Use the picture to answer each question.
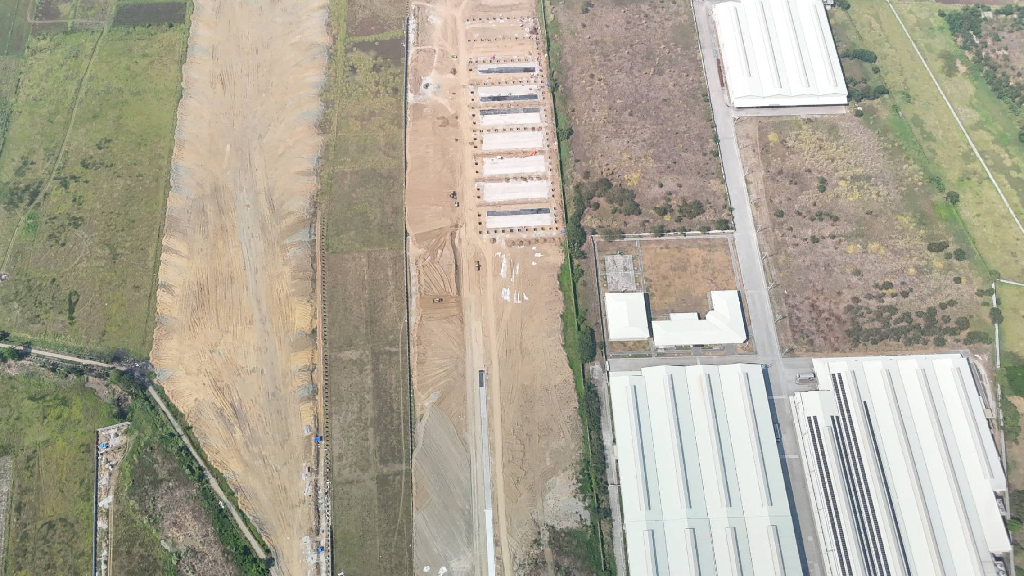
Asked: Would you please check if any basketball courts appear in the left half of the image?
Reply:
No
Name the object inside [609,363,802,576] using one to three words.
warehouse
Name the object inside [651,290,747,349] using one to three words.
building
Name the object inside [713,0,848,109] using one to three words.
building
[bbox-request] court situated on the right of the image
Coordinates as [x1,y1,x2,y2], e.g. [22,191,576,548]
[605,255,636,292]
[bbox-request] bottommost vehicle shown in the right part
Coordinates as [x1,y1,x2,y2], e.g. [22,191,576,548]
[773,421,785,442]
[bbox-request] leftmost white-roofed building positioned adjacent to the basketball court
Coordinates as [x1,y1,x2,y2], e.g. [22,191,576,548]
[605,292,649,343]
